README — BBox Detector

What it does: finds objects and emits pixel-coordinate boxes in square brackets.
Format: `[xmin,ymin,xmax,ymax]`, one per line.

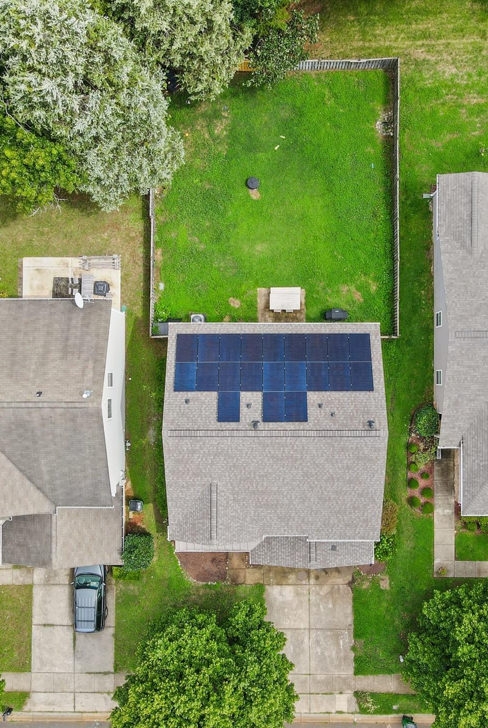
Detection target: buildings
[0,284,128,569]
[162,321,387,569]
[433,172,488,516]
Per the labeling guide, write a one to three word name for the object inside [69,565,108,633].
car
